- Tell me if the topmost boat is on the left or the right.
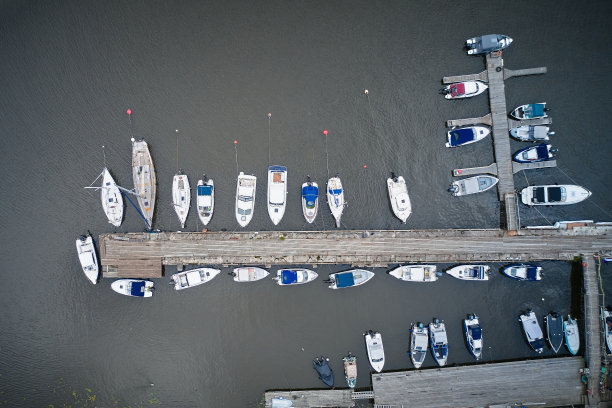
right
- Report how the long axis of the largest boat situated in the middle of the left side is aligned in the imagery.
from top to bottom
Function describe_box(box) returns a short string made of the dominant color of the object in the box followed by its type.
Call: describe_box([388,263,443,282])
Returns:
white boat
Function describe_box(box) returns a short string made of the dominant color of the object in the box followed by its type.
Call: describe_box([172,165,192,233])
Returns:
white boat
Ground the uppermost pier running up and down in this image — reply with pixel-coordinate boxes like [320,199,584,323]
[486,54,515,203]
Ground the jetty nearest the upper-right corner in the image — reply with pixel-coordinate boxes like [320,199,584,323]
[504,67,549,81]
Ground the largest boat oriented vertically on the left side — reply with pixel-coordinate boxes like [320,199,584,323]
[114,113,157,235]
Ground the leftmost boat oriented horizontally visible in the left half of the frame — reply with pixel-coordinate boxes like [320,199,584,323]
[110,277,157,297]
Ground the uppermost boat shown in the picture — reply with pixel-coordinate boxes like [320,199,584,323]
[463,35,514,55]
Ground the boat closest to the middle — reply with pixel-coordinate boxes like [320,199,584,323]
[302,179,319,232]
